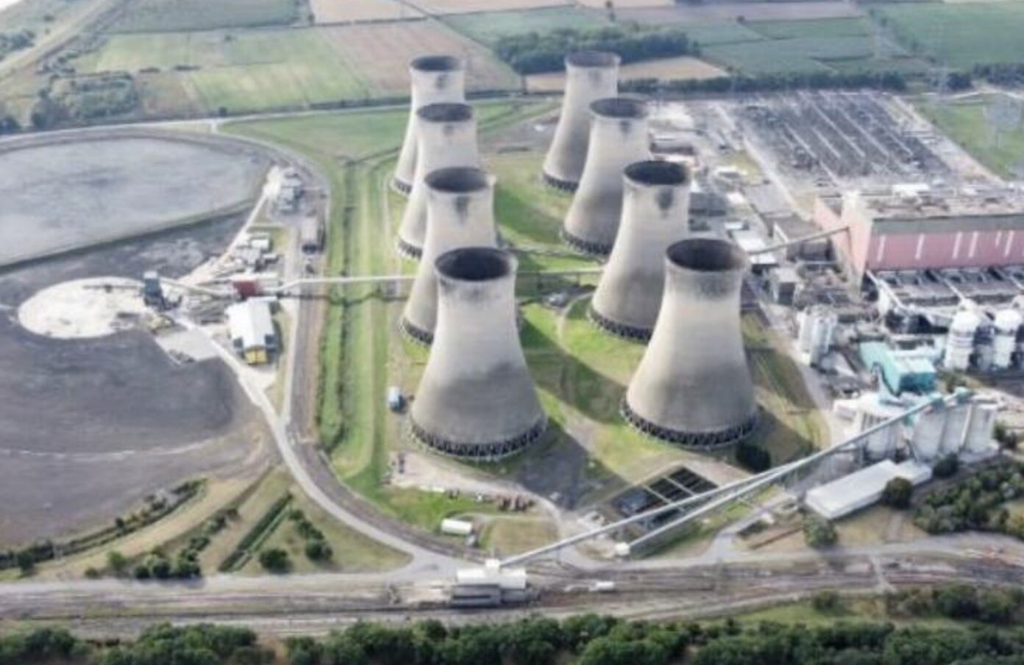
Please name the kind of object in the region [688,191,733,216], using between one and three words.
building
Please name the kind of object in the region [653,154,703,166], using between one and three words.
building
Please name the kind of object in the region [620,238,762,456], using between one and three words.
cooling tower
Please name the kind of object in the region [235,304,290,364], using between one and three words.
shed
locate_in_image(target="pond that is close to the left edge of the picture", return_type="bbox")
[0,128,279,276]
